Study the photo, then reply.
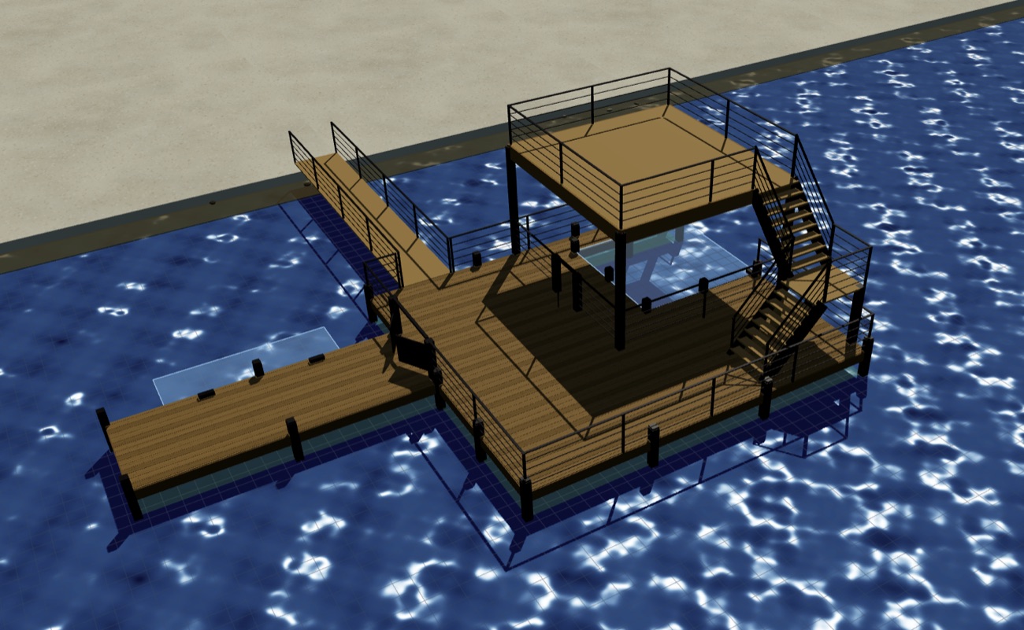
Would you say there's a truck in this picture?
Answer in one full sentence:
No, no truck is visible in the scene.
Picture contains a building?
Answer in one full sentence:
No, this view has no building in it.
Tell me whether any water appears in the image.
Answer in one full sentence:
Yes, the picture does contain water.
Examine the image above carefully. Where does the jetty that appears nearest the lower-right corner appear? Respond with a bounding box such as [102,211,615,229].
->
[370,225,864,516]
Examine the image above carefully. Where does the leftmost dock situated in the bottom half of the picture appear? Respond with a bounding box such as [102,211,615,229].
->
[110,333,438,518]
